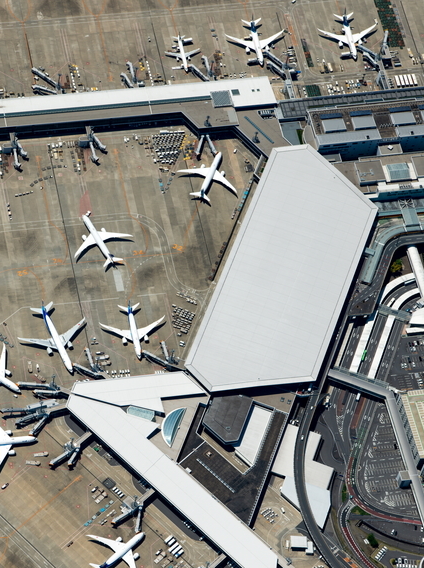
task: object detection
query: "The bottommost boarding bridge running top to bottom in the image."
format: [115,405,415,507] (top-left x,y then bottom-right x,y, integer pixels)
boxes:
[130,505,144,532]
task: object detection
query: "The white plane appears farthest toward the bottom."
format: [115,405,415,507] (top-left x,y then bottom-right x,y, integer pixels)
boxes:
[87,533,146,568]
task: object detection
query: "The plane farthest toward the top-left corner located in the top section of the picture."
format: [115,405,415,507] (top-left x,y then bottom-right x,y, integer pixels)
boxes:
[166,38,200,70]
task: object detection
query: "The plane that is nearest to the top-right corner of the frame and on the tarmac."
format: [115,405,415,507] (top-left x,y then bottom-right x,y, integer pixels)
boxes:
[319,10,377,59]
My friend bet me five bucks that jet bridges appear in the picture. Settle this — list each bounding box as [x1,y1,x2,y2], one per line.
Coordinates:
[18,381,59,389]
[32,68,61,90]
[32,84,60,95]
[86,141,98,161]
[188,64,210,81]
[362,53,380,70]
[358,45,382,63]
[16,410,48,426]
[92,132,106,152]
[84,347,96,372]
[262,50,287,70]
[27,413,50,436]
[1,400,62,414]
[34,388,63,397]
[64,446,81,466]
[14,137,27,156]
[121,73,136,88]
[73,363,98,379]
[160,341,171,363]
[380,31,390,55]
[205,132,219,155]
[130,505,144,532]
[142,349,174,371]
[267,62,287,79]
[111,505,141,524]
[202,58,212,77]
[192,132,205,155]
[50,443,80,467]
[9,153,20,167]
[127,62,138,81]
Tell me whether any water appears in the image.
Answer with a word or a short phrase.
No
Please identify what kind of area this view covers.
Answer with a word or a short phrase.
airport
